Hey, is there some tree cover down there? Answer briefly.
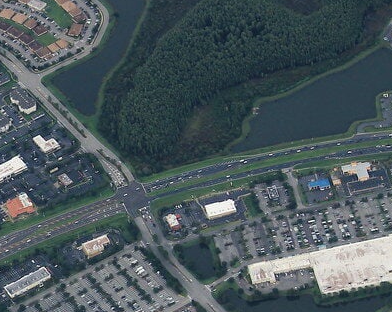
Yes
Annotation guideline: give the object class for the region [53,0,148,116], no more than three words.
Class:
pond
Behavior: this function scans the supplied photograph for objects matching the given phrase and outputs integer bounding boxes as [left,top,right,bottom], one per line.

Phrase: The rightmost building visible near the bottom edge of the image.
[247,234,392,298]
